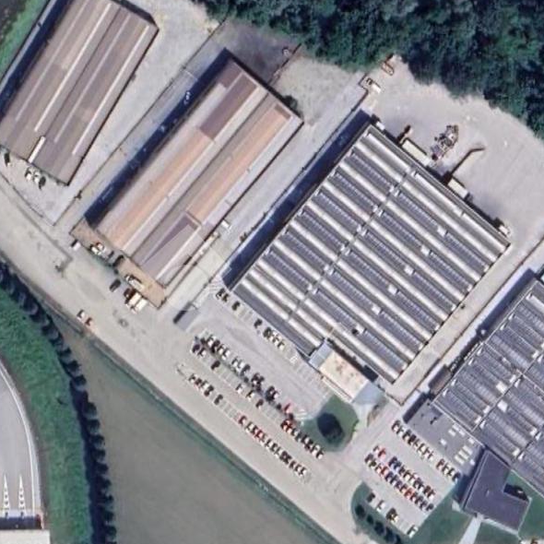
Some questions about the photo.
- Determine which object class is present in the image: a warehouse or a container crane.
warehouse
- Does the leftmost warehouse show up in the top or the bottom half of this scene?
top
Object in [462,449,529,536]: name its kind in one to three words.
building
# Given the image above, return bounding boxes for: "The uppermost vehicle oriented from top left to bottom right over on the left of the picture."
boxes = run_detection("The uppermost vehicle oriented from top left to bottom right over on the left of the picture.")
[125,275,143,289]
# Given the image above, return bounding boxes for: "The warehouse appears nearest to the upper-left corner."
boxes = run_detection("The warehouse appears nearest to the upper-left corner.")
[0,0,160,184]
